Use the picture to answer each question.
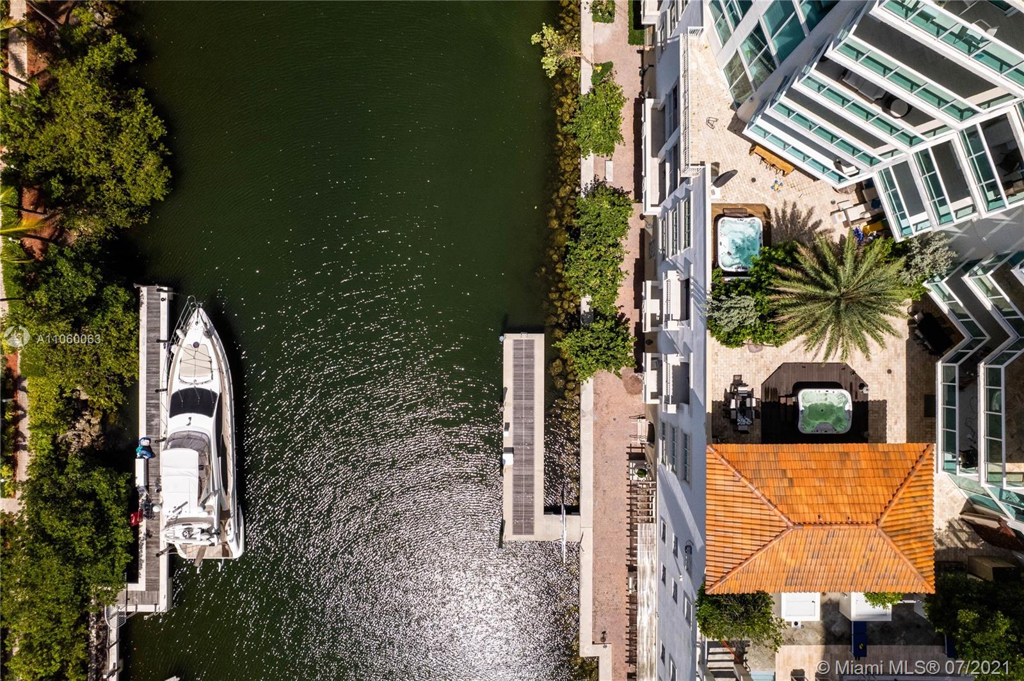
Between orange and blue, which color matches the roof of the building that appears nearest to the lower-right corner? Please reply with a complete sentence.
The color of the roof of the building that appears nearest to the lower-right corner is orange.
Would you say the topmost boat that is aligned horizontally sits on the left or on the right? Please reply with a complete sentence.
The topmost boat that is aligned horizontally is on the left side of the image.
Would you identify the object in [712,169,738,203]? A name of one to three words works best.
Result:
umbrella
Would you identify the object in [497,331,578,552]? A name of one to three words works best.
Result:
pier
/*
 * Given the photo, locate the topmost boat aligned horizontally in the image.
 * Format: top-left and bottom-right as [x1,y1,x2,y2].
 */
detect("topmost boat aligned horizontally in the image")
[152,525,213,547]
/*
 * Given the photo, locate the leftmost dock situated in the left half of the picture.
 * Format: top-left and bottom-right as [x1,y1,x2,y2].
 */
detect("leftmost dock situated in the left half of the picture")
[118,284,178,616]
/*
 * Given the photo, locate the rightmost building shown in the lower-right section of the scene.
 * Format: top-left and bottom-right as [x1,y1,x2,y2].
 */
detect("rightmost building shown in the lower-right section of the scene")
[703,442,939,597]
